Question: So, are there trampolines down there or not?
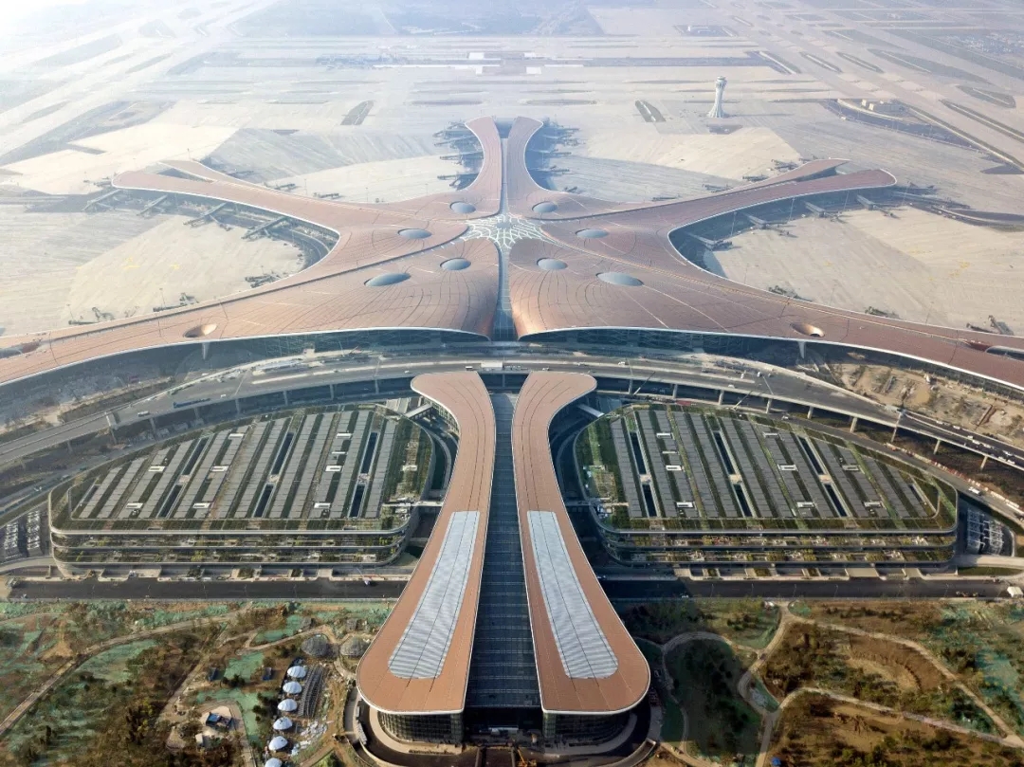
No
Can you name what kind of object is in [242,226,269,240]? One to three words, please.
jet bridge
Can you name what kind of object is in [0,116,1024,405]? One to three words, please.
building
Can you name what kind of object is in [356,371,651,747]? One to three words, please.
building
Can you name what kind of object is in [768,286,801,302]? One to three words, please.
jet bridge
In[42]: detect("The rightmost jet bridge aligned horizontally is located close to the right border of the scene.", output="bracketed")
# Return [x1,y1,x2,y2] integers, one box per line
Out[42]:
[964,323,1003,336]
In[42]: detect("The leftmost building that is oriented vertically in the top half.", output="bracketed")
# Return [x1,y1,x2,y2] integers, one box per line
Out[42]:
[708,76,730,120]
